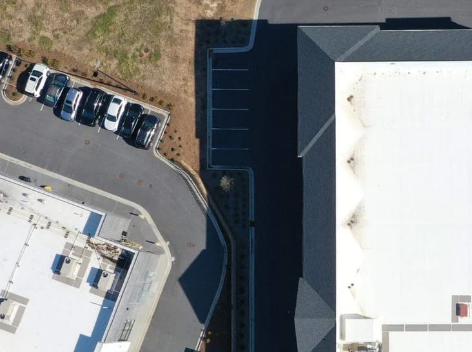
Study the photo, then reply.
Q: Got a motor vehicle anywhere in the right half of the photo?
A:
No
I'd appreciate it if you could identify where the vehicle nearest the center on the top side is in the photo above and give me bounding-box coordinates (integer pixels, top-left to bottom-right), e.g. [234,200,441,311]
[134,114,160,150]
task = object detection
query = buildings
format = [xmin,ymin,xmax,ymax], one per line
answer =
[293,24,472,352]
[0,170,160,352]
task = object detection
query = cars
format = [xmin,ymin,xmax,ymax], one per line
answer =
[45,73,70,109]
[0,50,9,81]
[119,104,143,139]
[104,95,128,131]
[134,114,160,150]
[83,89,108,125]
[60,85,85,122]
[25,63,50,97]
